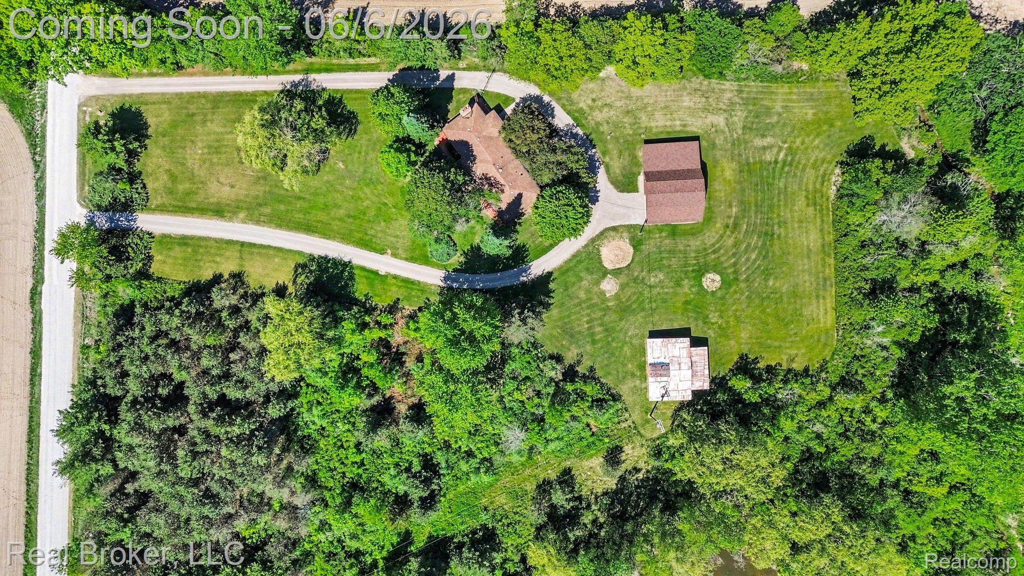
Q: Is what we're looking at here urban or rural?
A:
rural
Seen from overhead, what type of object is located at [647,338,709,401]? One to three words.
shed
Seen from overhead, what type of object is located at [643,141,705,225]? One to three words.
barn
